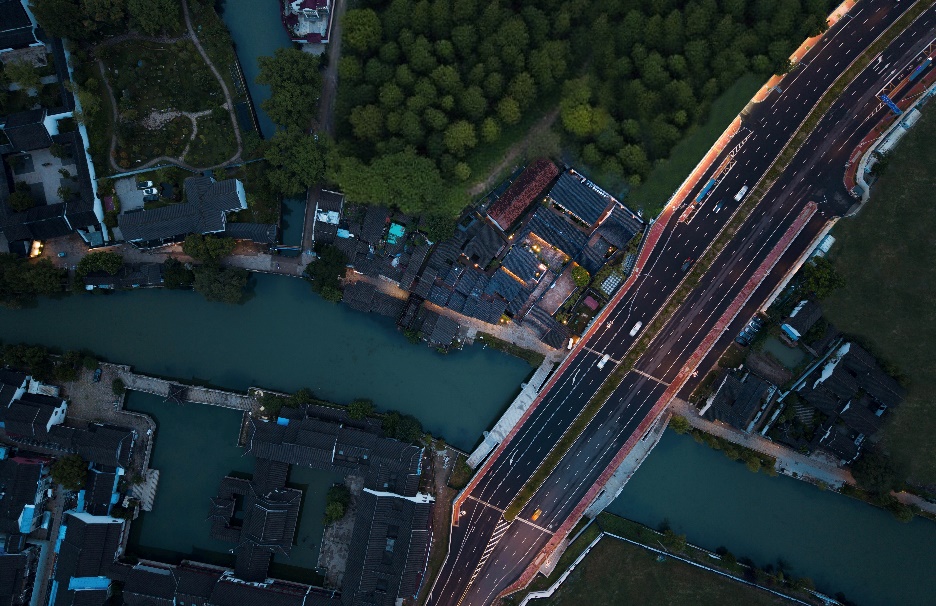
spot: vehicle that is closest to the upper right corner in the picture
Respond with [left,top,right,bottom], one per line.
[734,186,748,201]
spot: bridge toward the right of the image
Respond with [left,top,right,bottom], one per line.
[463,345,679,541]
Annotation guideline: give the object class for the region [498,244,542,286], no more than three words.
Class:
building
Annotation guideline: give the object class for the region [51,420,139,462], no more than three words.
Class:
house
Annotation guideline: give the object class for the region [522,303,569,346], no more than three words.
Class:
building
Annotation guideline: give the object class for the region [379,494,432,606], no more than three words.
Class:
house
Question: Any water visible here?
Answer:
Yes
